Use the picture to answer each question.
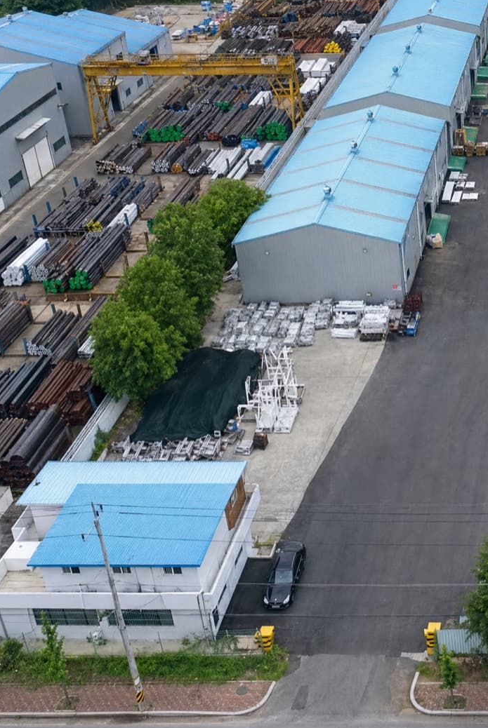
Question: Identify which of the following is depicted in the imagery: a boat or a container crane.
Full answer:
This aerial view contains a container crane.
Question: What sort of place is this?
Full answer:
The area seen from above is an industrial area.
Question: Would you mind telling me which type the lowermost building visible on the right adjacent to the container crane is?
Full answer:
I'd identify the lowermost building visible on the right adjacent to the container crane as a warehouse.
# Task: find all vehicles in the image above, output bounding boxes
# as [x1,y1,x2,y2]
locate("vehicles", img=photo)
[169,24,192,39]
[258,549,308,613]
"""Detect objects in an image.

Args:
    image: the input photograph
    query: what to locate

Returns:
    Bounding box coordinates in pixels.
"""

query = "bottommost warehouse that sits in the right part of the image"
[229,101,450,300]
